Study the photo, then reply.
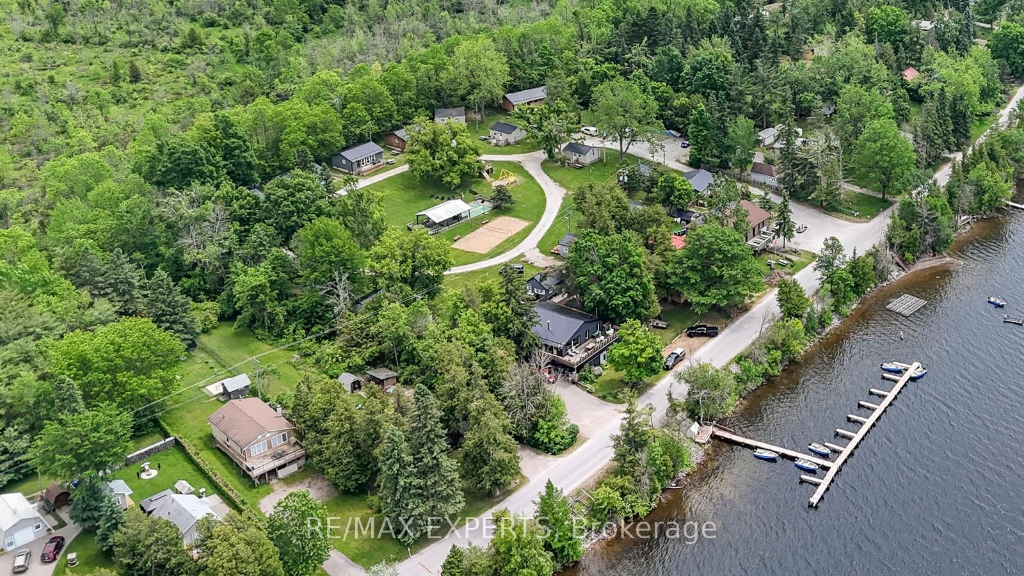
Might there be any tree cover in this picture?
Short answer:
Yes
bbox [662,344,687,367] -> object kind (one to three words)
truck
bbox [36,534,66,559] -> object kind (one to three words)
car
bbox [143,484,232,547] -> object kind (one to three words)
house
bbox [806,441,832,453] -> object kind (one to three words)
boat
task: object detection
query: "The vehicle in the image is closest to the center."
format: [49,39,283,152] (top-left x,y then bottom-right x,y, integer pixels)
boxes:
[504,259,535,274]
